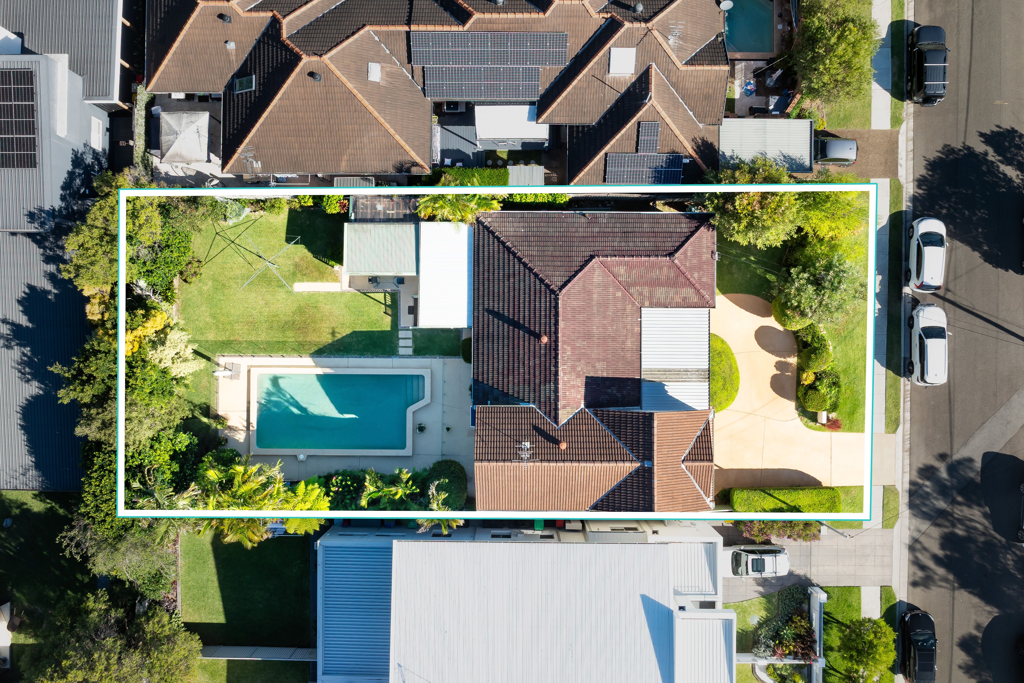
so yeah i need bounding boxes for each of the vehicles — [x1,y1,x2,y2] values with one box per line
[906,22,953,106]
[905,217,949,292]
[906,302,950,385]
[813,132,866,170]
[724,538,792,577]
[898,606,942,683]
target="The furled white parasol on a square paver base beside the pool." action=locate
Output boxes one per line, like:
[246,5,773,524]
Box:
[212,363,237,379]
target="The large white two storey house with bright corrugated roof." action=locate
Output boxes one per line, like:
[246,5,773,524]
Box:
[316,513,737,683]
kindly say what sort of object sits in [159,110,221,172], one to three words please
gazebo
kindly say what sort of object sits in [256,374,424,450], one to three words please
swimming pool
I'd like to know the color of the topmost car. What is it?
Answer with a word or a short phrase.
black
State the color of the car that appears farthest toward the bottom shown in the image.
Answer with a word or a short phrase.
black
